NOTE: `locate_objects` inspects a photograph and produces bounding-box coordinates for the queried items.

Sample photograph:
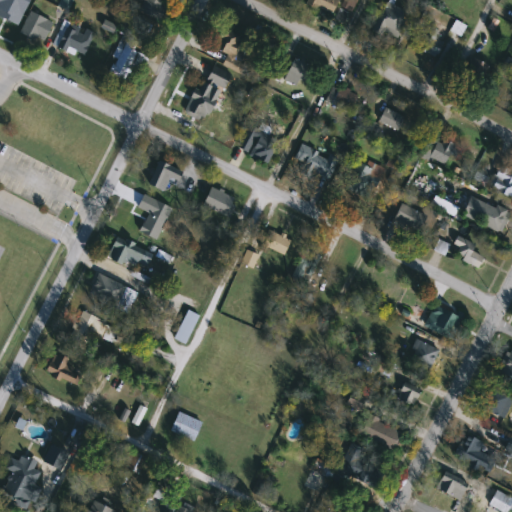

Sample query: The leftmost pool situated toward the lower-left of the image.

[22,422,49,444]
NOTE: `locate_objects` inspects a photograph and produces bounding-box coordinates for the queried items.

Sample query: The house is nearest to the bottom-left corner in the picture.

[4,456,44,512]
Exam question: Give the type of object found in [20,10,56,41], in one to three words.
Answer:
house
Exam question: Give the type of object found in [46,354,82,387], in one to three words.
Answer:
house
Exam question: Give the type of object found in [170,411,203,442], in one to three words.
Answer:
barn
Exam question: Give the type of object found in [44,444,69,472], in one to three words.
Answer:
building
